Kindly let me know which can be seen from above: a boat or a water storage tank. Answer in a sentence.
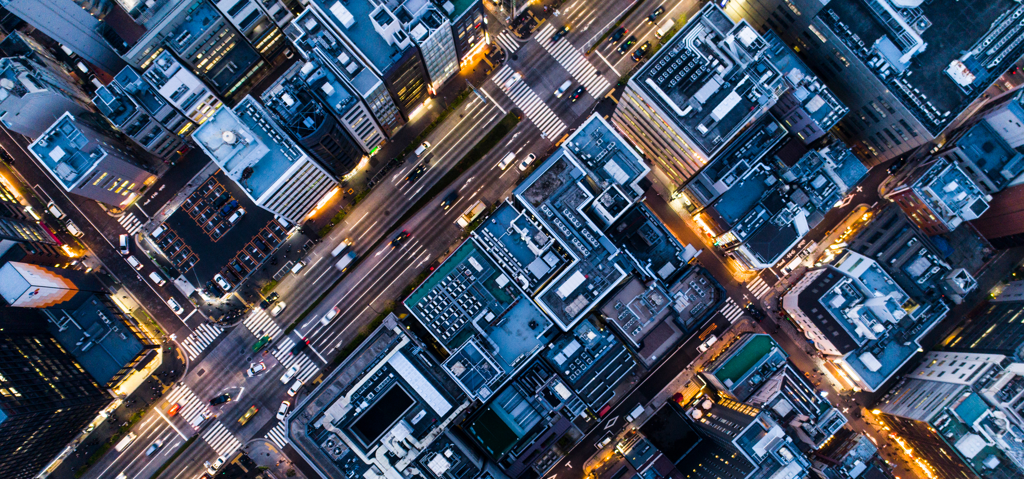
Visible in the photo is a water storage tank.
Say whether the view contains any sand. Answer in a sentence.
No, there's no sand in this view.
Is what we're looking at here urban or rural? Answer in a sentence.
The area shown here is urban.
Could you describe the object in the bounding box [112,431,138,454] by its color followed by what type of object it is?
white vehicle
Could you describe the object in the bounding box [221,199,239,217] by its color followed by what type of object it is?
blue car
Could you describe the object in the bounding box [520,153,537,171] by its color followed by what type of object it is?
white car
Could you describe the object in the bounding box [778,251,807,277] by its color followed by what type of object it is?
white truck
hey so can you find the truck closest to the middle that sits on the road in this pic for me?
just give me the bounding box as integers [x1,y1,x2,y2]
[458,200,485,227]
